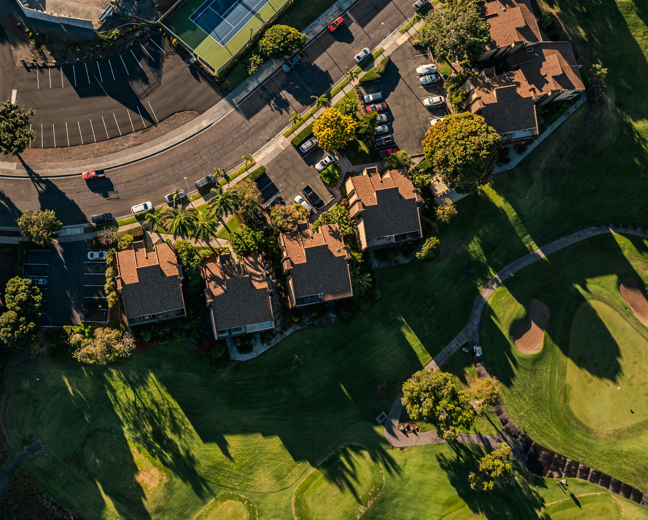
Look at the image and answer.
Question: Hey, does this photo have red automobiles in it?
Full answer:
Yes, you can see a red automobile in this photo.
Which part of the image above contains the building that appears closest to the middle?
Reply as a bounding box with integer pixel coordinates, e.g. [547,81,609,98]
[278,218,355,306]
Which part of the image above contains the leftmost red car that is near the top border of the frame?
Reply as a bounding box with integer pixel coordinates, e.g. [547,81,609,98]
[326,15,346,33]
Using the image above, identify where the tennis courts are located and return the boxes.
[169,0,283,69]
[189,0,268,46]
